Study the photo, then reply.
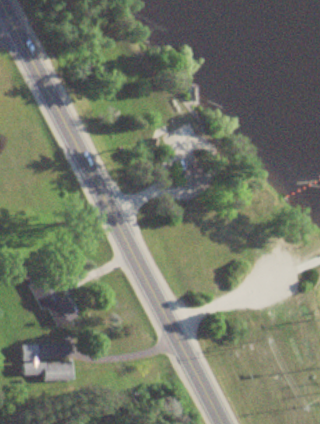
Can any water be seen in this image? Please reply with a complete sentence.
Yes, water shows up in the scene.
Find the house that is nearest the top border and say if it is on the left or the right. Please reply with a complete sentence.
The house that is nearest the top border sits on the left side.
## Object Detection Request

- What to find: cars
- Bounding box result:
[86,154,94,164]
[180,157,186,167]
[27,40,35,52]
